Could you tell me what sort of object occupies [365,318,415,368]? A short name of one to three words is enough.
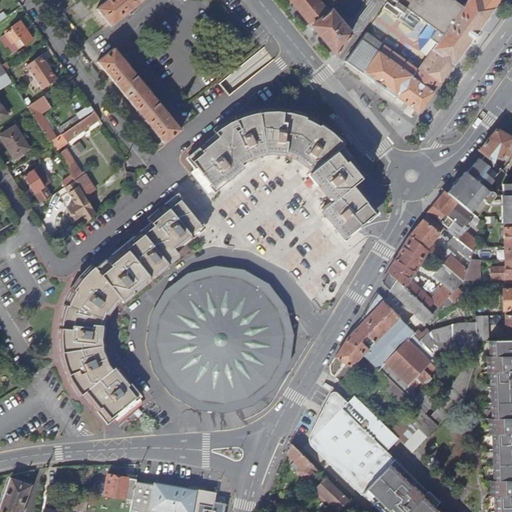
building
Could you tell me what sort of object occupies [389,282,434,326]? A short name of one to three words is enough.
shed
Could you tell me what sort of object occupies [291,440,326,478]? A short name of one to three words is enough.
house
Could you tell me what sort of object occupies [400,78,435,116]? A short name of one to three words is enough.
building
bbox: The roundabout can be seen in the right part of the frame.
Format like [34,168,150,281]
[391,154,432,196]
